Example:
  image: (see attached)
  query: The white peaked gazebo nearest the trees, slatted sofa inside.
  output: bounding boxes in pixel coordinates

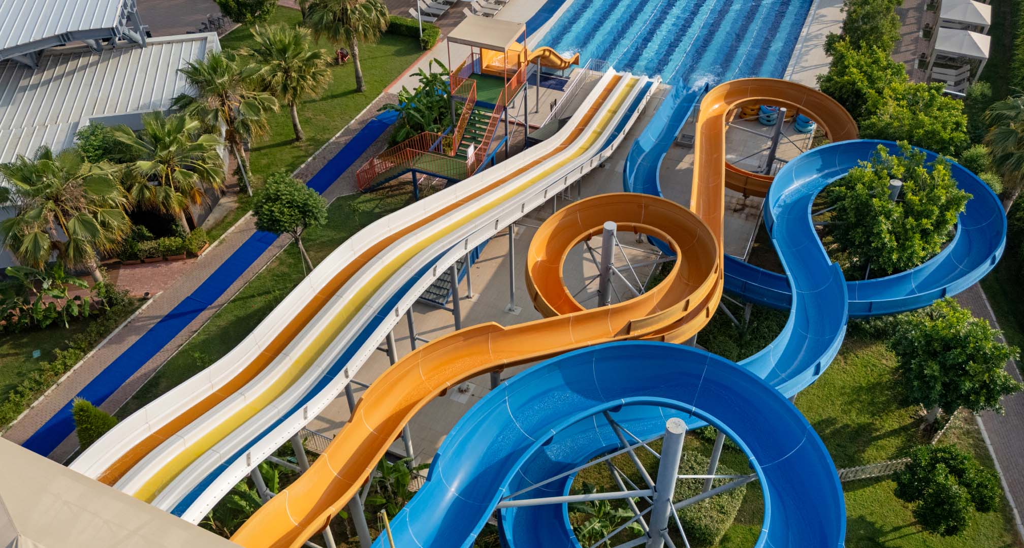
[922,28,991,89]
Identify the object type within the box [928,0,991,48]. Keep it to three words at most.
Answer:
gazebo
